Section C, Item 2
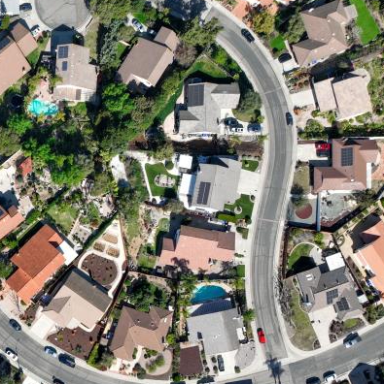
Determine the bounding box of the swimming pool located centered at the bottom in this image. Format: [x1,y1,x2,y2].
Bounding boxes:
[191,284,229,305]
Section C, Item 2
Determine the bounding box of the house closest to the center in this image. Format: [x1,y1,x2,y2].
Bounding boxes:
[176,154,241,215]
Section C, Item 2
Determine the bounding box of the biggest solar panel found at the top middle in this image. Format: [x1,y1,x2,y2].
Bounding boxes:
[188,82,207,104]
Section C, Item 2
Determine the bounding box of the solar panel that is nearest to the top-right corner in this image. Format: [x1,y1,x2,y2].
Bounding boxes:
[341,145,355,166]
